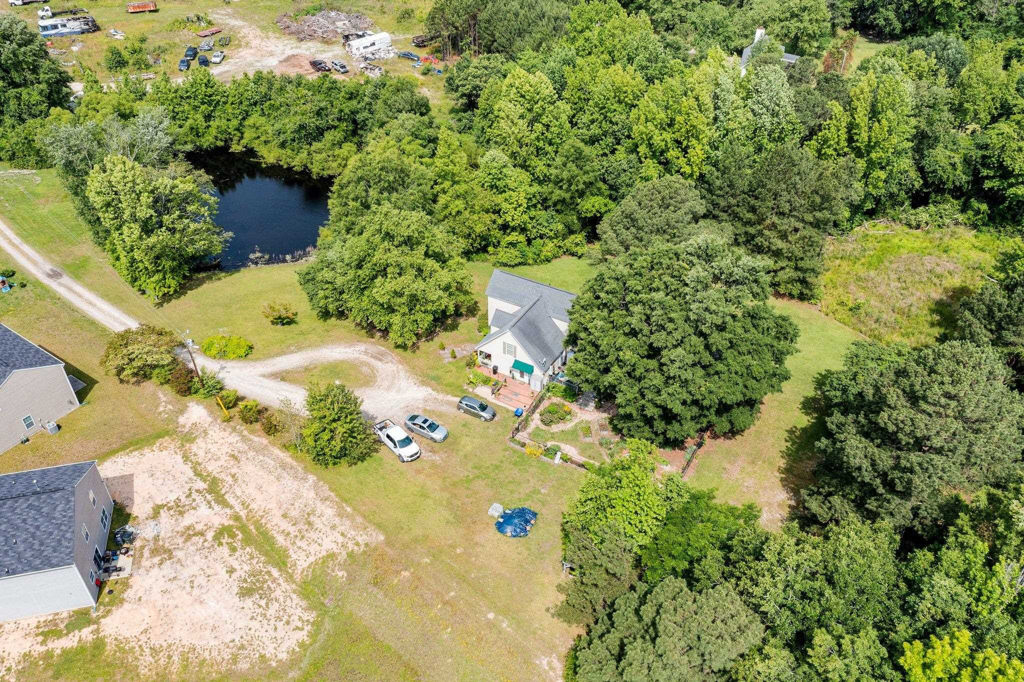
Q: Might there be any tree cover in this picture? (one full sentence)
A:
Yes, tree cover can be seen from above here.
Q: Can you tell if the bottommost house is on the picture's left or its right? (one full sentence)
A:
It is on the left.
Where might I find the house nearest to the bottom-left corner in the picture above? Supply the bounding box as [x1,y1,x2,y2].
[0,460,114,624]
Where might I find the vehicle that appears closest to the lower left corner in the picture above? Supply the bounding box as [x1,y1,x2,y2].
[375,415,424,462]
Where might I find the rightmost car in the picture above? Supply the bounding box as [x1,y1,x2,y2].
[455,391,498,420]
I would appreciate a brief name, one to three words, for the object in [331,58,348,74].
car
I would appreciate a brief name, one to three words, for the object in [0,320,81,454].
house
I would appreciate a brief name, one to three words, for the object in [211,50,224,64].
vehicle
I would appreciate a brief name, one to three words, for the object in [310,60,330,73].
vehicle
